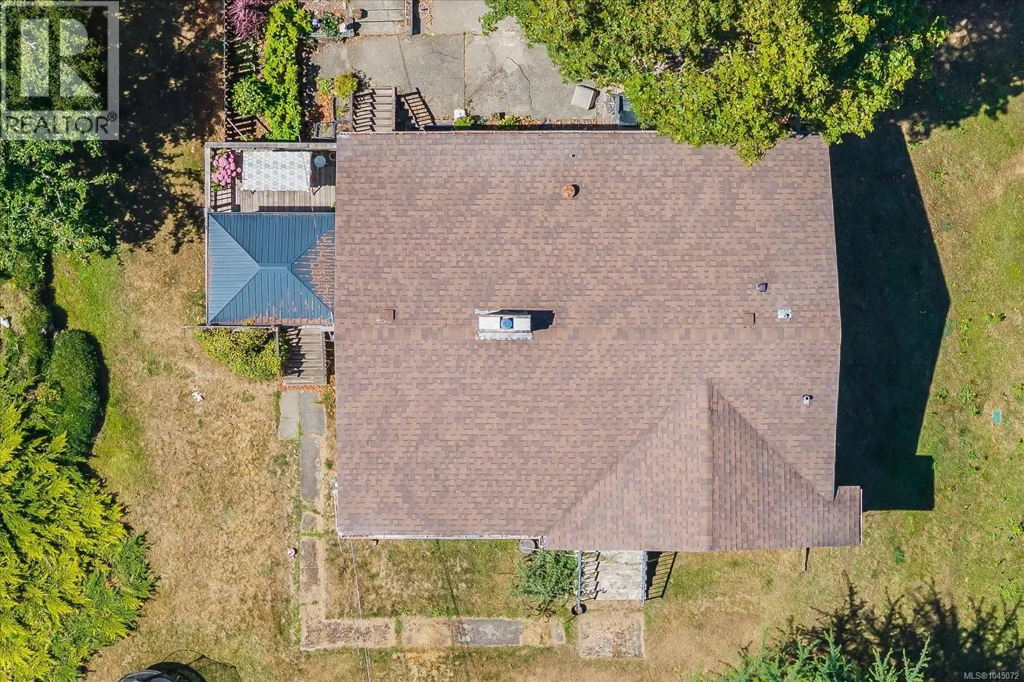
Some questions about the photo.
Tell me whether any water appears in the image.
No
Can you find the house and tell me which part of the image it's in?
center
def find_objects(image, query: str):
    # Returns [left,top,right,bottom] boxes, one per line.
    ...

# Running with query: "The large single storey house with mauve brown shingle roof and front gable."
[331,128,866,553]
